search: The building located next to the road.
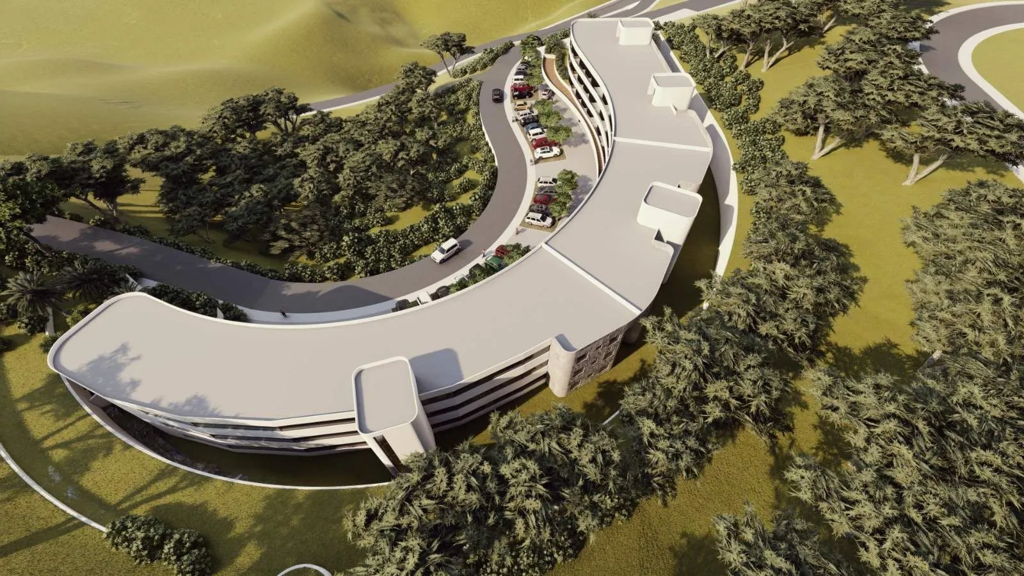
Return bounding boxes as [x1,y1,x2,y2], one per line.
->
[48,17,713,479]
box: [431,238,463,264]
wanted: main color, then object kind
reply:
white car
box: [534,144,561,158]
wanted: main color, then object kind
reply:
white car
